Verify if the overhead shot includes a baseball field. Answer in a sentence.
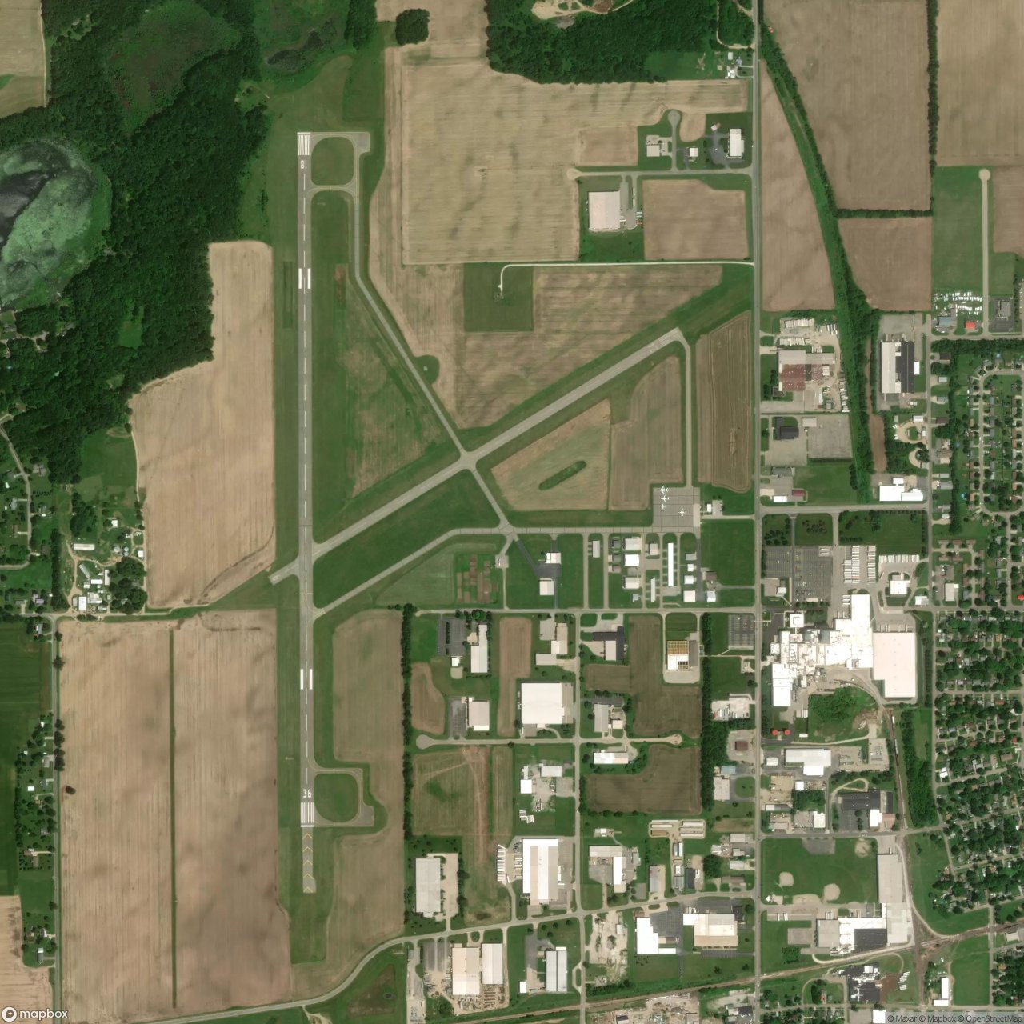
Yes, the frame does contain a baseball field.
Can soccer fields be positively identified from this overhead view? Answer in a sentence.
No, I can't see a single soccer field in this photo.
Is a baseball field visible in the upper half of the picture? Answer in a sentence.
No, I see no baseball field in the upper half of the picture.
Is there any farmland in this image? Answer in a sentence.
Yes, there's farmland in this view.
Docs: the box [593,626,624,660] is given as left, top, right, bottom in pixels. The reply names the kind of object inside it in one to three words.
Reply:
building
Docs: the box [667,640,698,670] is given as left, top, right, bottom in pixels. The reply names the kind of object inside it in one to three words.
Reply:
building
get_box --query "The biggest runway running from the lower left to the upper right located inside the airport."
[269,327,676,585]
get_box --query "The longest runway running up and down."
[298,132,314,827]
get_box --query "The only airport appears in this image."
[269,132,707,893]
